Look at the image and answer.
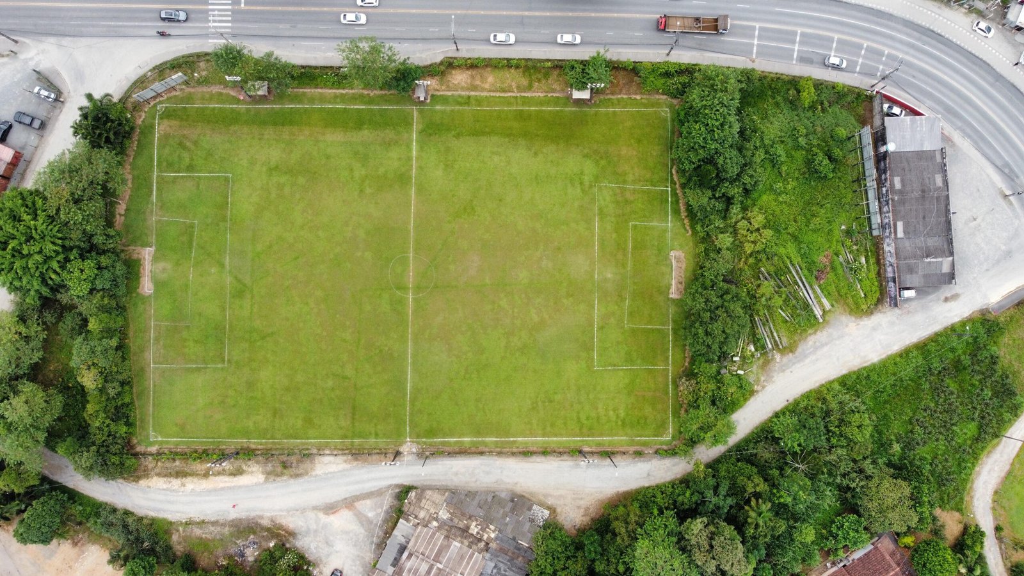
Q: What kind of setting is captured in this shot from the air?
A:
sports ground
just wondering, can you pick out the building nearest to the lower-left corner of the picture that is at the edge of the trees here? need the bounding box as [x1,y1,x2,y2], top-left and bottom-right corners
[376,491,546,576]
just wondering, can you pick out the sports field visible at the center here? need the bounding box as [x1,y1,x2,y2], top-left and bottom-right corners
[122,90,695,448]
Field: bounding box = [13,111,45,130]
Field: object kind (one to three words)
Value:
vehicle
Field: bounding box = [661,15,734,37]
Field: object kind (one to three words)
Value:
truck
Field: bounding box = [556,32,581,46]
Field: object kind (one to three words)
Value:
car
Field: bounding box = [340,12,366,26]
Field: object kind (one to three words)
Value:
car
